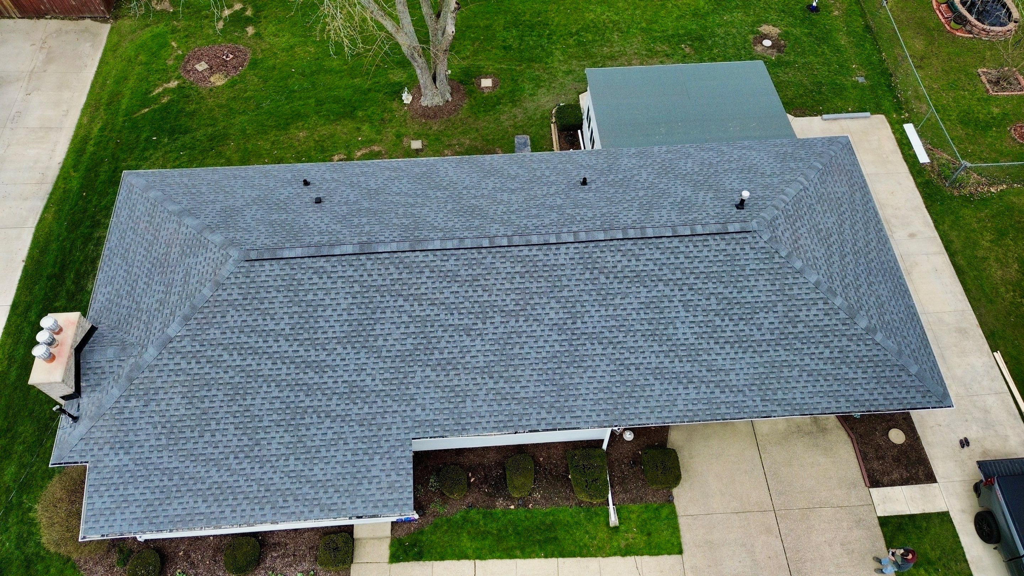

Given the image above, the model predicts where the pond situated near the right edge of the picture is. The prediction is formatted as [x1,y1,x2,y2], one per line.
[945,0,1020,41]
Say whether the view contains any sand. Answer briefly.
No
